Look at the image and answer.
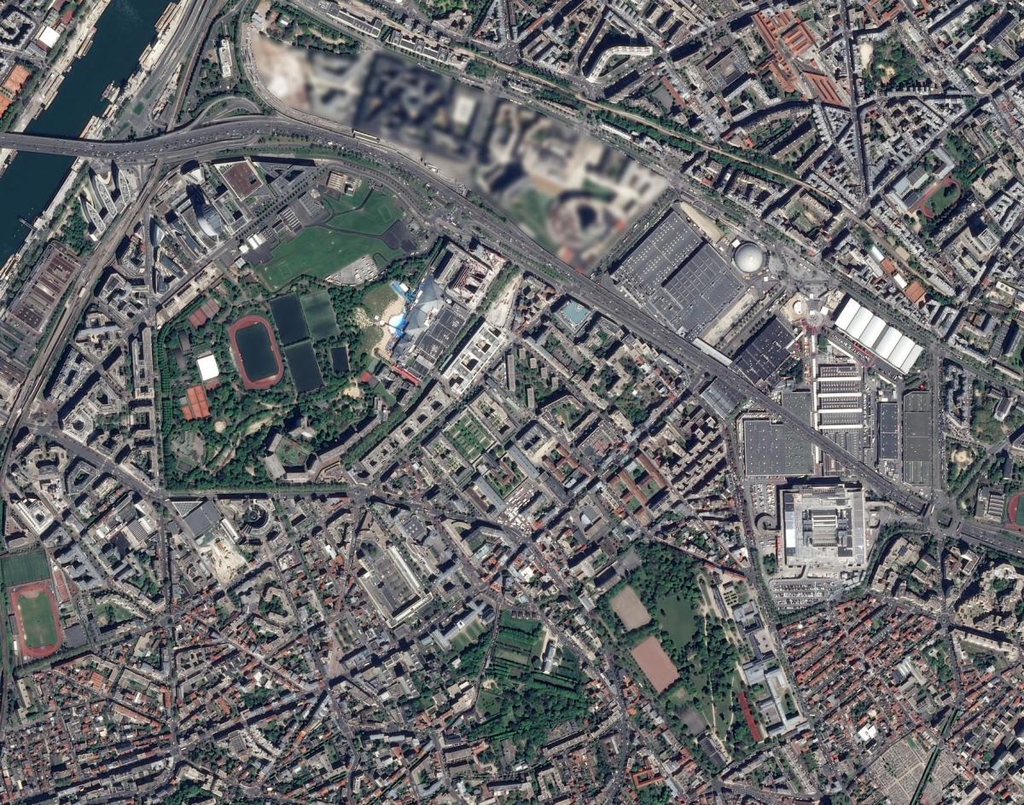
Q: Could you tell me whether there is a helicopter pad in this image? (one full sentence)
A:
Yes, the photo shows a helicopter pad.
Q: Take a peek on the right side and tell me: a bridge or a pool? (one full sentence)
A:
The one visible on the right side is a bridge.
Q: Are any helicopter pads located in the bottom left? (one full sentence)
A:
No, I see no helicopter pad in the bottom left.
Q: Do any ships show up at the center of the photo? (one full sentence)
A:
No, there is no ship at the center of the photo.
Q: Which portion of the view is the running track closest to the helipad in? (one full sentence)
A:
You can find the running track closest to the helipad in the left area of the picture.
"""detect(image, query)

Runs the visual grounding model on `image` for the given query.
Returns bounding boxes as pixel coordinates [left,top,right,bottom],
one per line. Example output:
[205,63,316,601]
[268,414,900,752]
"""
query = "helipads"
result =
[244,176,412,293]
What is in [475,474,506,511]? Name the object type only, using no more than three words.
building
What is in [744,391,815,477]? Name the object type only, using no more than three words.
building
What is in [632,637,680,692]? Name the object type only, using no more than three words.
sports field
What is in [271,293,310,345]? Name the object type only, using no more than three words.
soccer field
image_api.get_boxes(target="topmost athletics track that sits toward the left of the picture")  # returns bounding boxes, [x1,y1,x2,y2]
[228,315,283,389]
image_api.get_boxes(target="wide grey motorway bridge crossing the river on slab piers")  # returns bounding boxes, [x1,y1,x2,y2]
[0,130,139,157]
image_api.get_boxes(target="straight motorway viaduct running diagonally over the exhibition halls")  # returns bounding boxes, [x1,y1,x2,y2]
[706,358,925,513]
